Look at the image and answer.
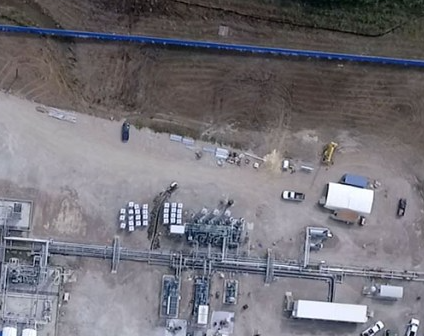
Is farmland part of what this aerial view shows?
Yes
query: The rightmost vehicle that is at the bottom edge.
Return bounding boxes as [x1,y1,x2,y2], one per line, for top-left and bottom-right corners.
[406,320,418,336]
